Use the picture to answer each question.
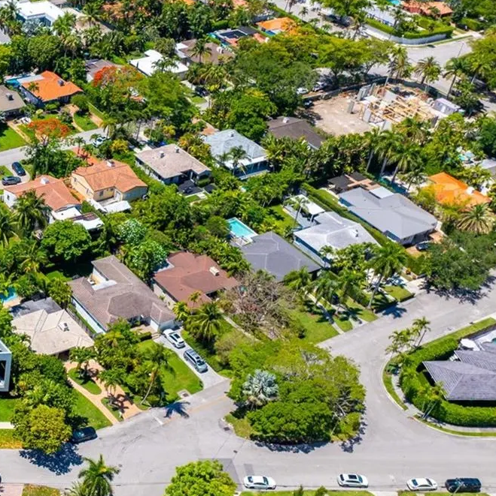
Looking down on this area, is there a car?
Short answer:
Yes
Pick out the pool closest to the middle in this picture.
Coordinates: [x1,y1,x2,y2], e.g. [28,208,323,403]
[224,213,262,242]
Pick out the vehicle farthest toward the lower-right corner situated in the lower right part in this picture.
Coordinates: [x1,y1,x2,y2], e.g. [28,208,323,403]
[440,475,488,495]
